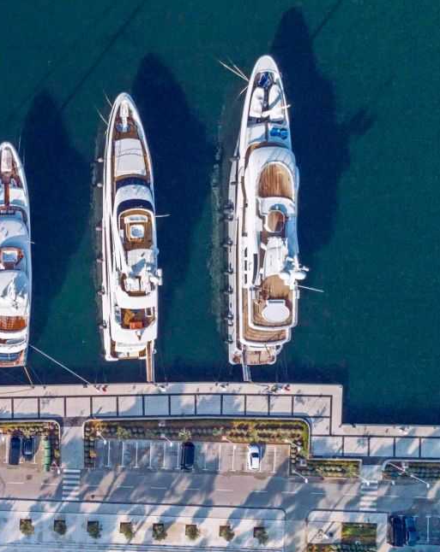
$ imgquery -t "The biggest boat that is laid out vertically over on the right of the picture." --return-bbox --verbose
[219,54,323,383]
